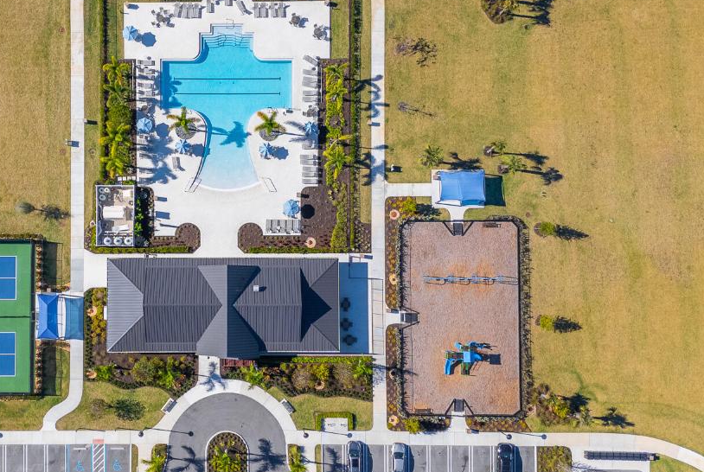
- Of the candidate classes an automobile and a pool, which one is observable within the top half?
pool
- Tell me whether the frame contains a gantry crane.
No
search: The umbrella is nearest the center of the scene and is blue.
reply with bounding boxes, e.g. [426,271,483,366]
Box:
[285,199,300,215]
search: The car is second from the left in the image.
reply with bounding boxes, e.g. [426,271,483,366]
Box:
[391,441,407,472]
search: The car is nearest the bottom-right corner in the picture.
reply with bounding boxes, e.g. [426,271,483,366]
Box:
[495,441,514,472]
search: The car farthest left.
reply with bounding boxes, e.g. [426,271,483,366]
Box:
[347,439,363,472]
